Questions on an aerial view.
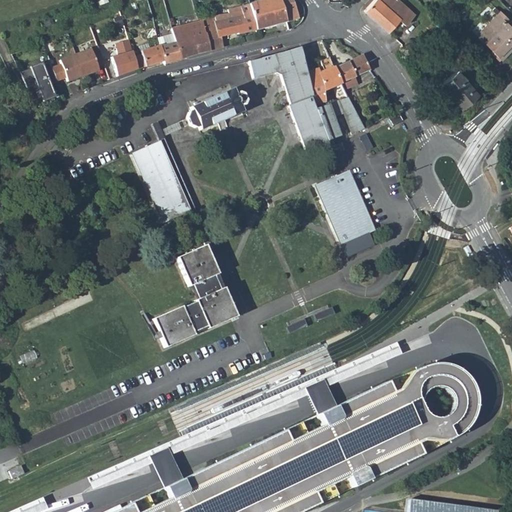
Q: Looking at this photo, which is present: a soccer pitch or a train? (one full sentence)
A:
The one in the frame is a train.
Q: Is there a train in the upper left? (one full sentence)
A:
No, there's no train to be seen in the upper left.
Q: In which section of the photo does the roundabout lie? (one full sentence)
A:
You can find the roundabout in the right area of the picture.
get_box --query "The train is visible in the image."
[210,370,303,414]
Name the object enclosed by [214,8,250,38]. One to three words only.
house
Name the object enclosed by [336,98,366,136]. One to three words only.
shed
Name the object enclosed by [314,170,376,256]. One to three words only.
building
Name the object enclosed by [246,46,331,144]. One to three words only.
building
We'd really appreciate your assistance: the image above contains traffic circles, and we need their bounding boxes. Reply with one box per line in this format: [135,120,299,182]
[411,106,512,318]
